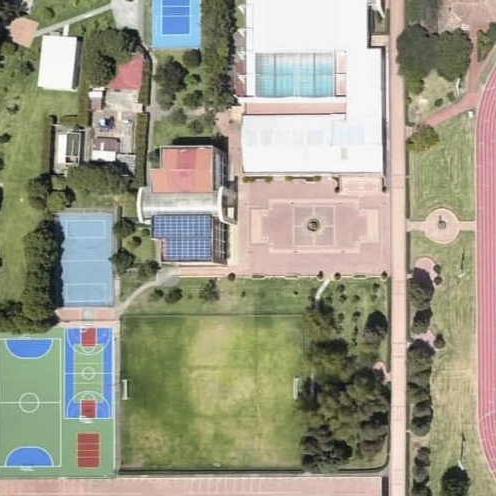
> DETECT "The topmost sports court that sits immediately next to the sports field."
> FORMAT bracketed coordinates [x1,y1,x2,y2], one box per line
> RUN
[58,212,115,307]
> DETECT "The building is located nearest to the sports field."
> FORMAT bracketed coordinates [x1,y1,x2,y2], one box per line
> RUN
[133,146,240,265]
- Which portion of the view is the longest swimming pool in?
top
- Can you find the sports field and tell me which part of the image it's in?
bottom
